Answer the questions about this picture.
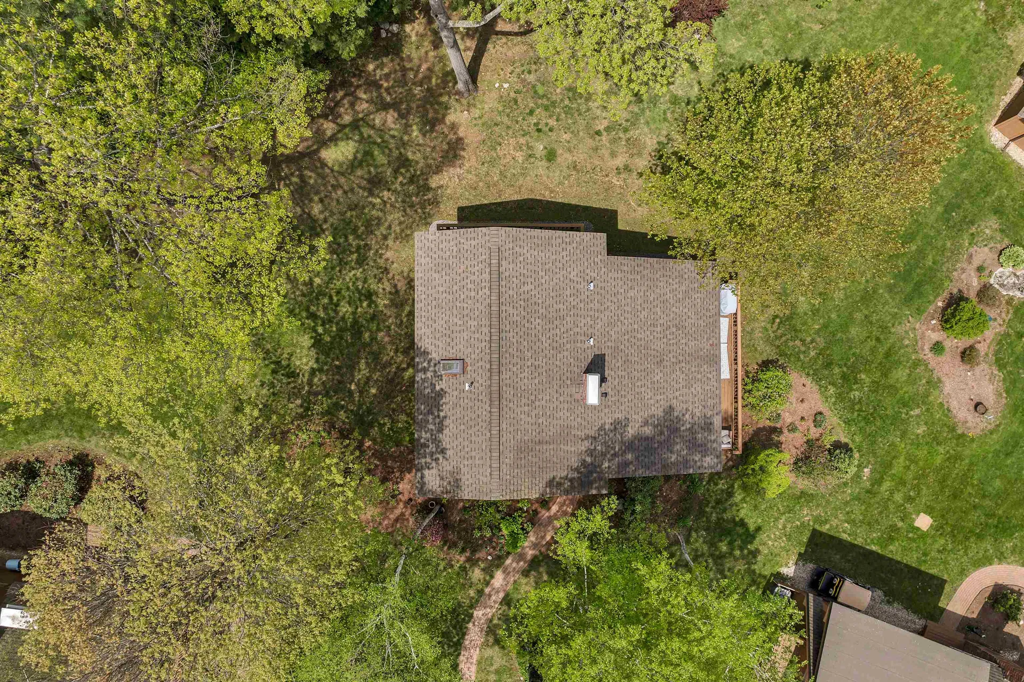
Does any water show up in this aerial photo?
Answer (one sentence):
No, the picture contains no water.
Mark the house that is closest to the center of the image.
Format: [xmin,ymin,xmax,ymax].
[415,227,721,500]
